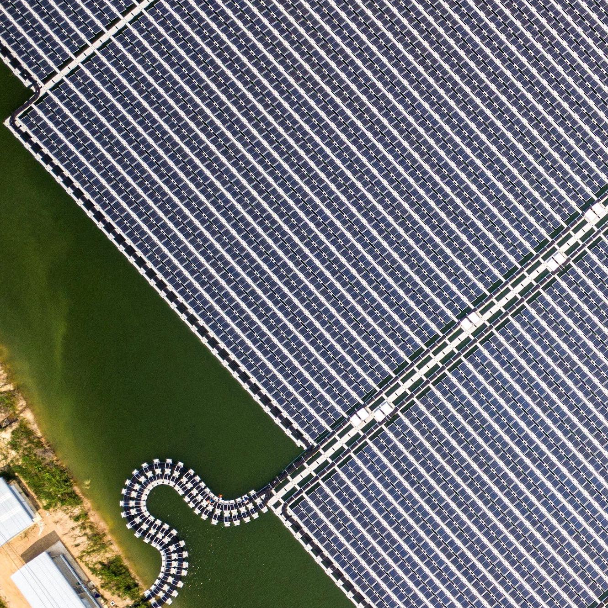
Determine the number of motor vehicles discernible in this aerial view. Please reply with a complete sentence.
Not a single motor vehicle can be seen.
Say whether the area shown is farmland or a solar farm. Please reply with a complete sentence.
It's a solar farm.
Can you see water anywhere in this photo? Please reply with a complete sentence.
Yes, some water is visible.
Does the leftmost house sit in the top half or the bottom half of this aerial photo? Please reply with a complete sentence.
Seen from above, the leftmost house lies in the bottom half of the view.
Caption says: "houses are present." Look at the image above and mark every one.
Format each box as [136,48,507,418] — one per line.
[10,546,103,608]
[0,473,54,546]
